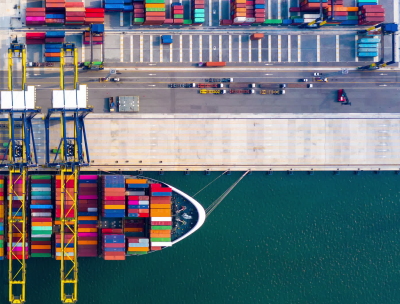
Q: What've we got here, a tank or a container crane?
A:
container crane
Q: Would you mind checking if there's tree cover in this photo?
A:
No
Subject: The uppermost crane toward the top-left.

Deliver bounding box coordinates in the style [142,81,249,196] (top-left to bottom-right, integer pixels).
[83,22,106,72]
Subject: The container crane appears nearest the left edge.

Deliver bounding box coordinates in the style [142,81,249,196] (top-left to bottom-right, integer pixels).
[0,37,42,304]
